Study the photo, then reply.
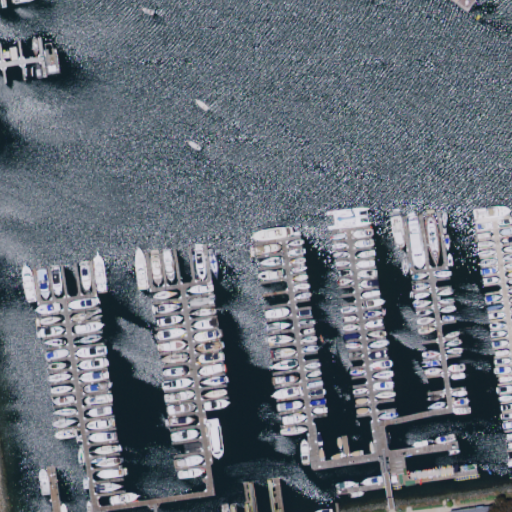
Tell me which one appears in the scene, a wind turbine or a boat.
boat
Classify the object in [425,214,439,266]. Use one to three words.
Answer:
boat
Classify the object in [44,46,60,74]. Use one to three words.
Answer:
ship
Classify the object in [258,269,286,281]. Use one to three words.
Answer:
boat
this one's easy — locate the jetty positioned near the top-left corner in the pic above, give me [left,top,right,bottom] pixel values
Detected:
[0,36,48,84]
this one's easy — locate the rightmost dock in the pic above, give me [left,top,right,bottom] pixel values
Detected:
[474,216,512,470]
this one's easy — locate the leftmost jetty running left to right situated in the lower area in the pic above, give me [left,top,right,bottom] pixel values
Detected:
[92,492,216,512]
